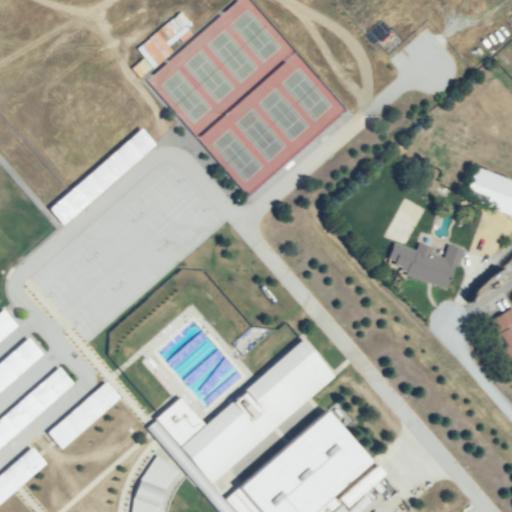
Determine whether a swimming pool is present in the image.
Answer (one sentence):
Yes, the photo shows a swimming pool.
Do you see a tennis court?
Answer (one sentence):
Yes, a tennis court is visible in the scene.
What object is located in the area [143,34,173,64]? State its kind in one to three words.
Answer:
shed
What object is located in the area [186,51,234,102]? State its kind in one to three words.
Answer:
tennis court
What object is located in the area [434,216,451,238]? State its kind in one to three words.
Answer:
swimming pool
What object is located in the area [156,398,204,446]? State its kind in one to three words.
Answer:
building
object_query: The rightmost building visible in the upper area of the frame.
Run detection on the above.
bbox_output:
[471,164,512,211]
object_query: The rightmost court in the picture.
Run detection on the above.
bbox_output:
[384,198,425,244]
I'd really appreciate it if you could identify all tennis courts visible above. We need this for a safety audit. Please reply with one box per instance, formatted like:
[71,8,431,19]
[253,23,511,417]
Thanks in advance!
[162,72,210,122]
[232,10,280,62]
[260,89,308,140]
[282,69,330,120]
[186,51,234,102]
[214,130,262,182]
[237,109,285,160]
[209,30,258,82]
